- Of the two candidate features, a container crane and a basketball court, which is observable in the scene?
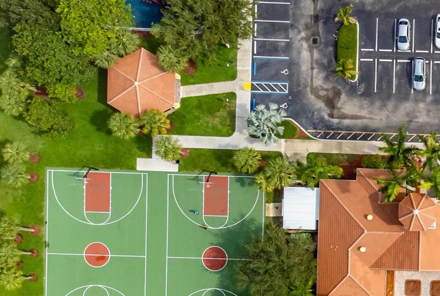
basketball court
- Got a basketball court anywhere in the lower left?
Yes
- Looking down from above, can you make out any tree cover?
Yes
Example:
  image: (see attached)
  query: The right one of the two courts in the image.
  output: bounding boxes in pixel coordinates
[155,171,266,296]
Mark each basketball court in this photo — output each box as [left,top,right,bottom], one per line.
[44,168,157,296]
[155,171,266,296]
